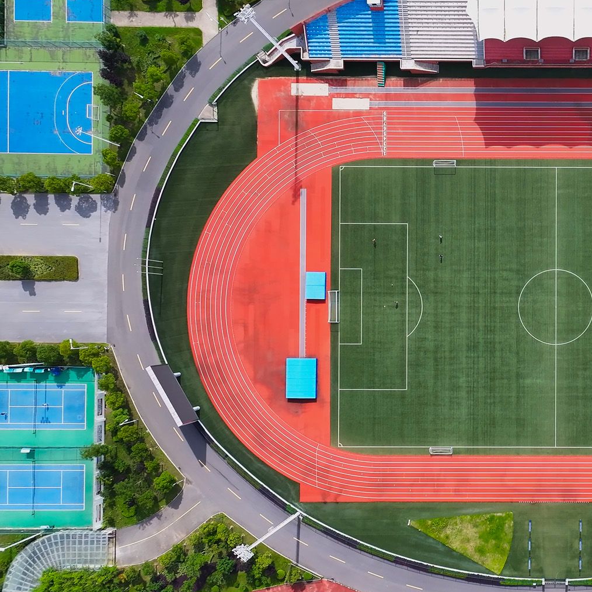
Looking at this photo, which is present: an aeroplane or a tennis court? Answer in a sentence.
There is a tennis court in the scene.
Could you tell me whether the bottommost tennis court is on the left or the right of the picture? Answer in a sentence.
The bottommost tennis court is on the left side of the image.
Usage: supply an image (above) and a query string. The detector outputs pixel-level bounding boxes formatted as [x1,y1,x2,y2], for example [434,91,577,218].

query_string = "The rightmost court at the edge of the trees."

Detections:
[58,0,109,47]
